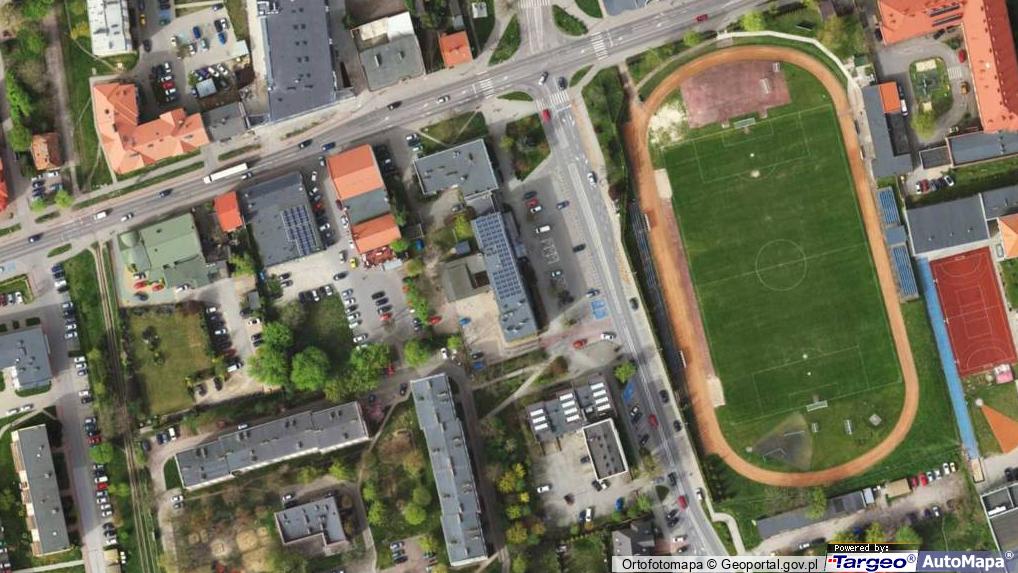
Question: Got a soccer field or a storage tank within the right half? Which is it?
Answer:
soccer field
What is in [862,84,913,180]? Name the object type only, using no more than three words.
building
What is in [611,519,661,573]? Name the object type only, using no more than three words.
house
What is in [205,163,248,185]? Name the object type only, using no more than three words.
truck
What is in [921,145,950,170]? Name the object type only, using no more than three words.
building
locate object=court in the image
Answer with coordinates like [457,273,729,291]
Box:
[930,247,1016,376]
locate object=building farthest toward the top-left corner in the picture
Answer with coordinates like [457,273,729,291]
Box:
[87,0,132,58]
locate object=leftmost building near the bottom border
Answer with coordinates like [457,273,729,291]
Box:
[14,424,72,556]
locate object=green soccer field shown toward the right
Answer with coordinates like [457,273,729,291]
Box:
[661,101,903,427]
